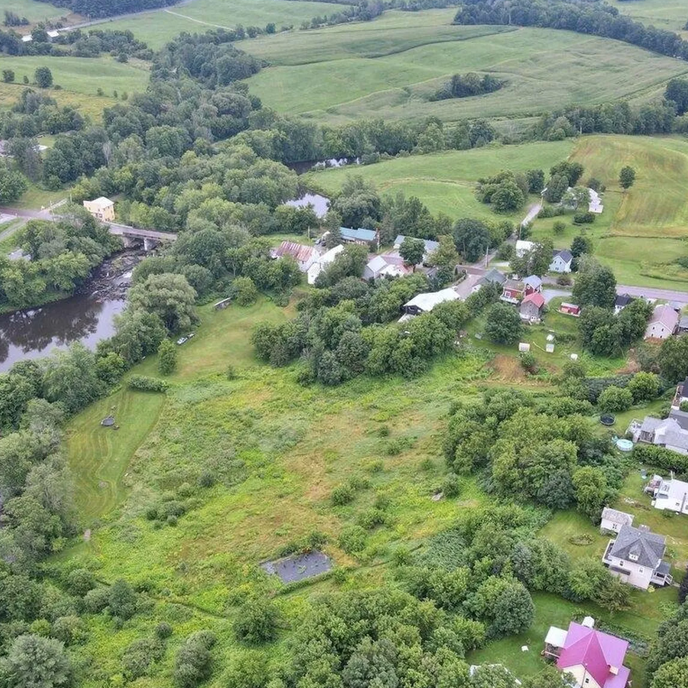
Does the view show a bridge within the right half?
No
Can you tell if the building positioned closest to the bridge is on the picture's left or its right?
left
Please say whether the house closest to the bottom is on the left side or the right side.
right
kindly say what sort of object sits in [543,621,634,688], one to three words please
house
